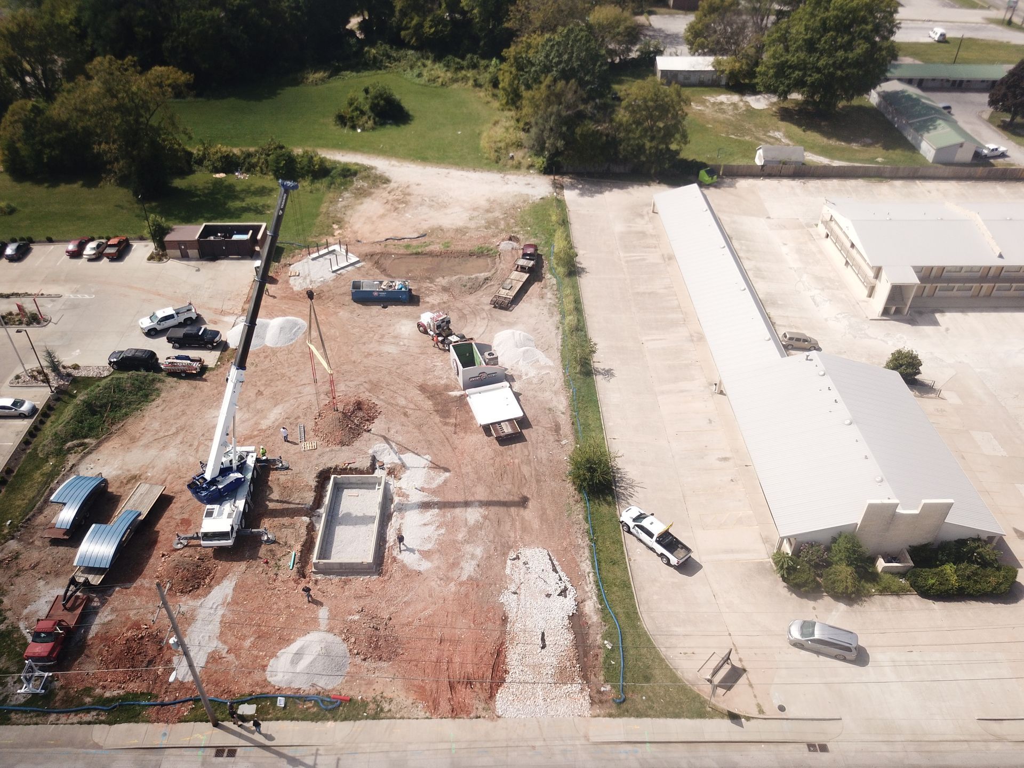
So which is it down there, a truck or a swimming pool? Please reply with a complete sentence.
Visible in the photo is a truck.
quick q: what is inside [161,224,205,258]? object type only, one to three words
building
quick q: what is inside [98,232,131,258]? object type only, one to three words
truck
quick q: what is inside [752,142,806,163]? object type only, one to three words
shed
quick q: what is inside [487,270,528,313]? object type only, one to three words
trailer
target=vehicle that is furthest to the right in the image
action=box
[977,141,1009,158]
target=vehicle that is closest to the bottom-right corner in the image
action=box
[786,616,862,661]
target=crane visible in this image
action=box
[171,182,313,551]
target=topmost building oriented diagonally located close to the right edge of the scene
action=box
[861,76,984,163]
